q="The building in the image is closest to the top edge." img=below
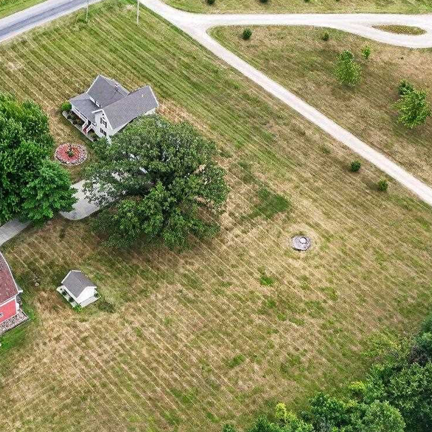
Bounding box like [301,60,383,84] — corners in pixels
[72,74,160,144]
